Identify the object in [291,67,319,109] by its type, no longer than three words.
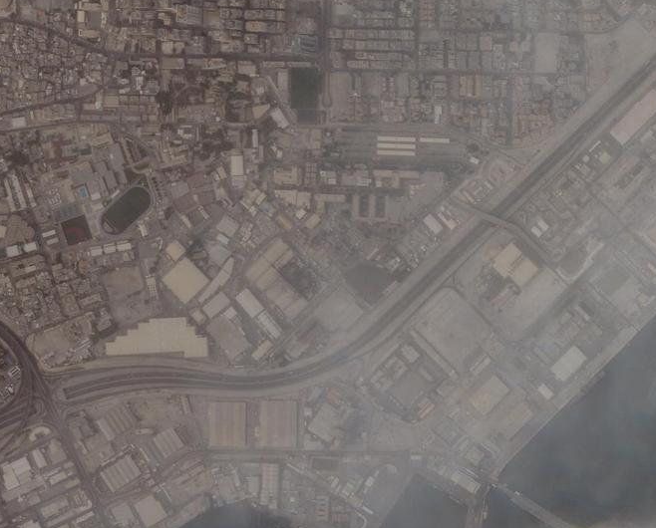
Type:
soccer field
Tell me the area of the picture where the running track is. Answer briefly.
left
